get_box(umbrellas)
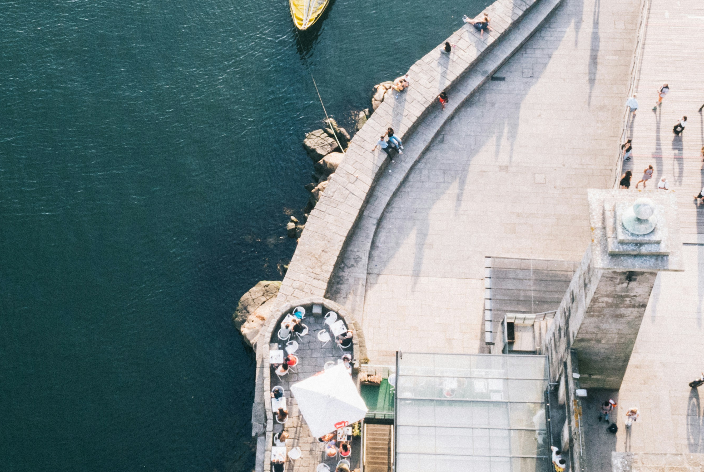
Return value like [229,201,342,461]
[290,363,369,440]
